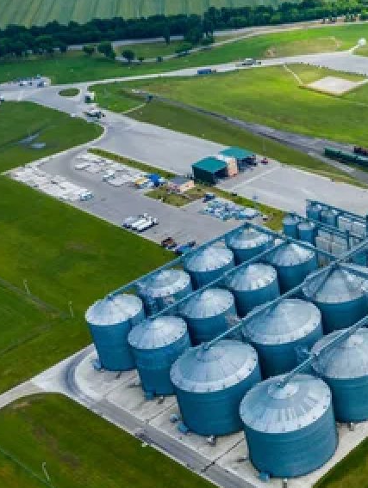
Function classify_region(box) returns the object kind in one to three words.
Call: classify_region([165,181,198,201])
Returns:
shed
